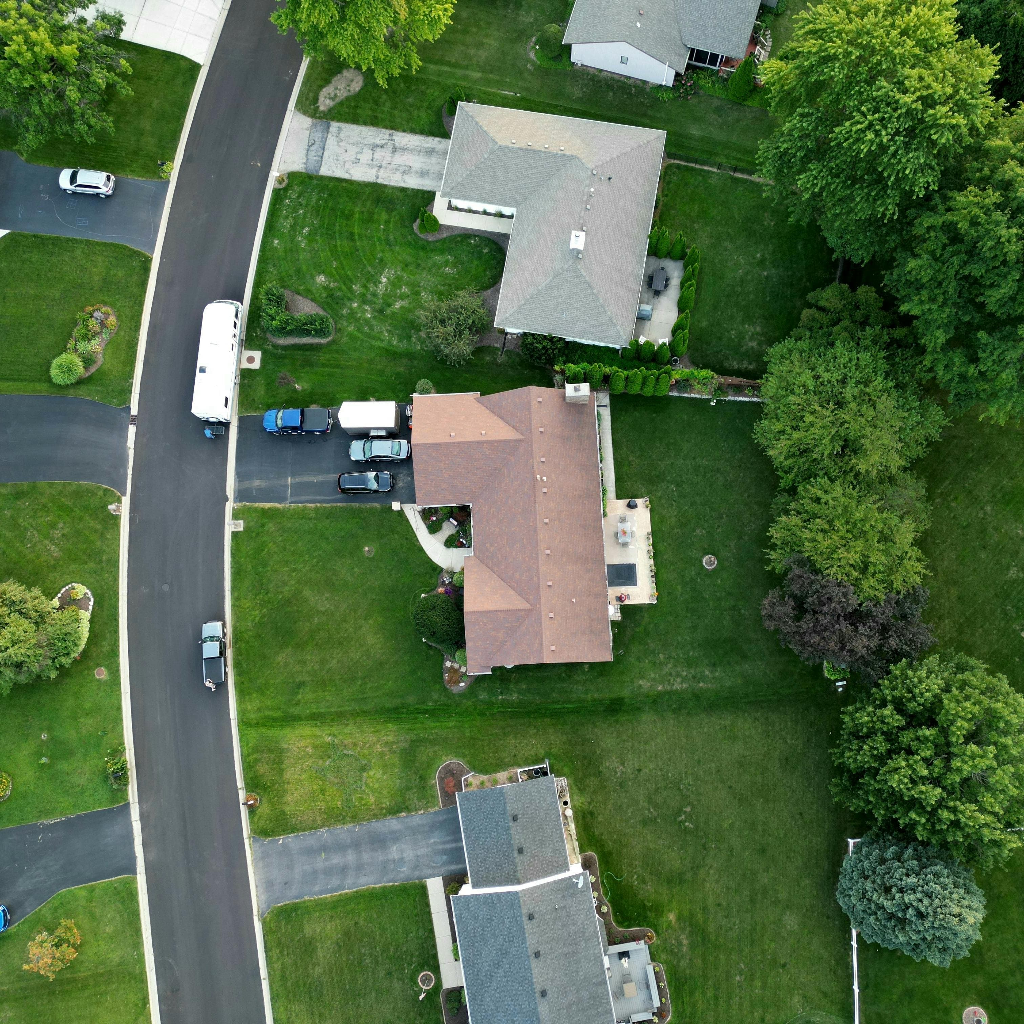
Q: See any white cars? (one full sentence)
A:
Yes, I can see a white car in this picture.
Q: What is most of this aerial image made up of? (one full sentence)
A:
Most of the picture is covered by grass.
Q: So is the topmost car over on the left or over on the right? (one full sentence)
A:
The topmost car is on the left side of the image.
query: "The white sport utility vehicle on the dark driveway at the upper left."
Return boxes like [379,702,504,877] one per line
[60,168,120,202]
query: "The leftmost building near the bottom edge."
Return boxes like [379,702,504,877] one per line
[448,774,617,1024]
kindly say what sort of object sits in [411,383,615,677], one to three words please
house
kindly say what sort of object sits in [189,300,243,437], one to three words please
camper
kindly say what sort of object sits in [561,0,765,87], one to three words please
house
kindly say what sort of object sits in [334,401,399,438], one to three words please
trailer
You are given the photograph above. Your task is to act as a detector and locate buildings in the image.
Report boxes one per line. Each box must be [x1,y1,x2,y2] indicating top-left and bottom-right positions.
[448,774,617,1024]
[561,0,765,87]
[438,100,668,354]
[411,383,615,677]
